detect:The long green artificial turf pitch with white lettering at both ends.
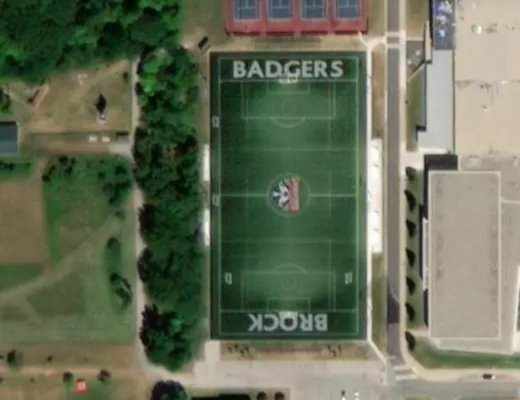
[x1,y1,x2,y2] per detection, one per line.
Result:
[210,52,367,340]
